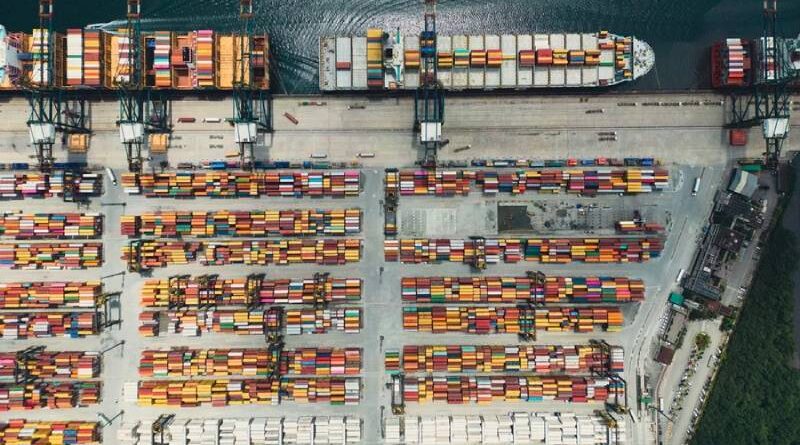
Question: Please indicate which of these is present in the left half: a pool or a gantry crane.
gantry crane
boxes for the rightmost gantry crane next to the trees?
[717,0,796,163]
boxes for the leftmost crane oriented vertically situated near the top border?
[16,0,93,169]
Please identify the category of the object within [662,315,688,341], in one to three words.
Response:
building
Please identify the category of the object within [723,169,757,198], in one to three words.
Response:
building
